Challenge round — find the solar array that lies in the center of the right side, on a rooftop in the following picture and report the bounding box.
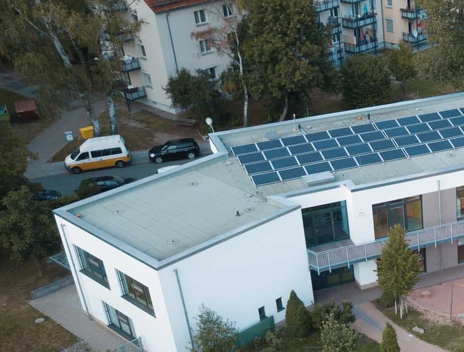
[231,105,464,187]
